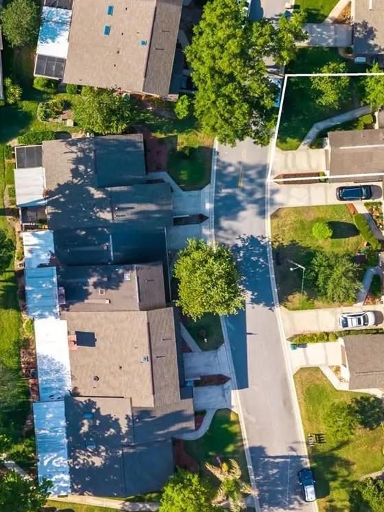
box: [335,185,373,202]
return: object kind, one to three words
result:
car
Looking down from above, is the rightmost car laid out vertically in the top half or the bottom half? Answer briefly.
bottom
